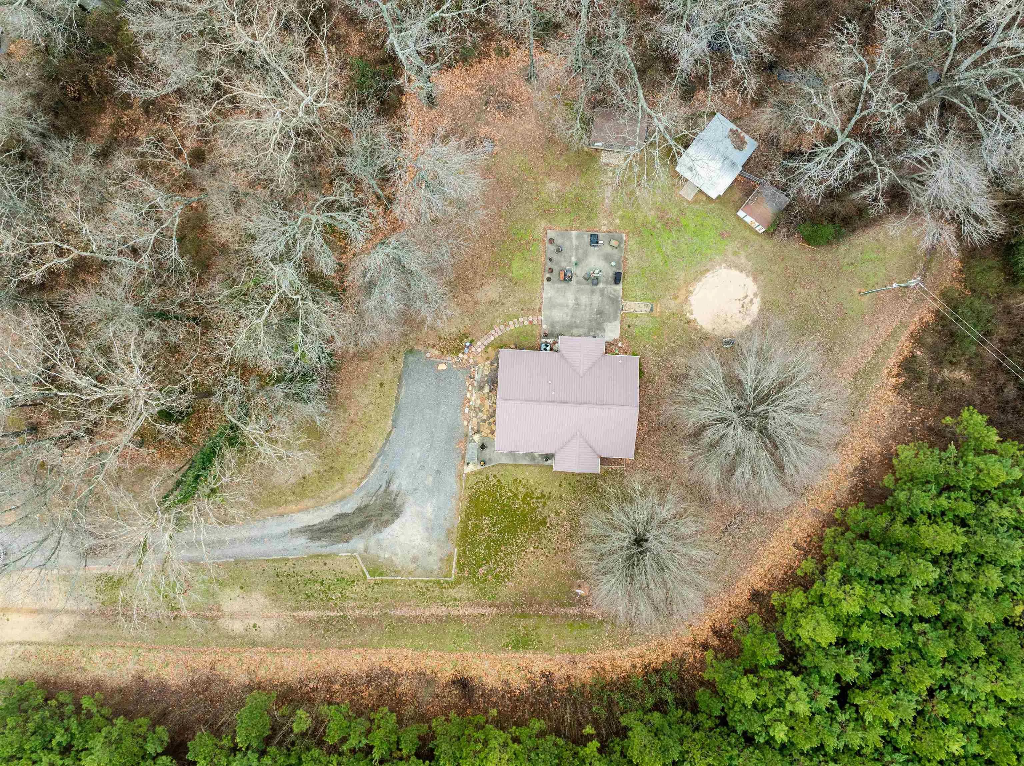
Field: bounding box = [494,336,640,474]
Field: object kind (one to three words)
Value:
house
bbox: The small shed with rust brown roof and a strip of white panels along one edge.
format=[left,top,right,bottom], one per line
[735,182,789,232]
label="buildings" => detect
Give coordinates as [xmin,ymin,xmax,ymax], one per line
[675,112,758,200]
[586,108,647,156]
[494,336,640,474]
[735,182,789,232]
